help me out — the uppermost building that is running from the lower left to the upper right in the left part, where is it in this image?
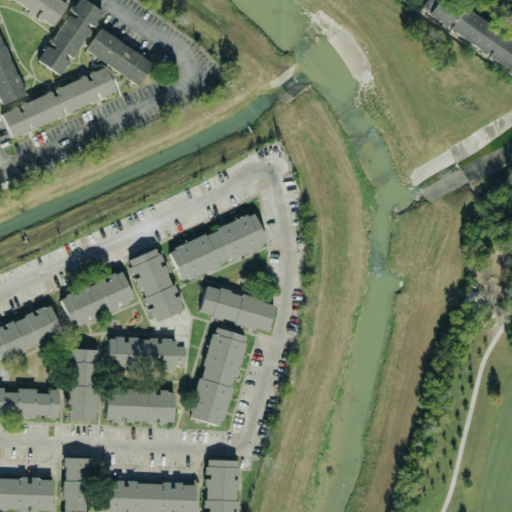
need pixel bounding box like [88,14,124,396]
[38,0,104,75]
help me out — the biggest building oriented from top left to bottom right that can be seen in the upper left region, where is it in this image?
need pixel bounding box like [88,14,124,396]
[88,29,152,84]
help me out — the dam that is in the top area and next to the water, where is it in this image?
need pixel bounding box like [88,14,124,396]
[270,65,312,103]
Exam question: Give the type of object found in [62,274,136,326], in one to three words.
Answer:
building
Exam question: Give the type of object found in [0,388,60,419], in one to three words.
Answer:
building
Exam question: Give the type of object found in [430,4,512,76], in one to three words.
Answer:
house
